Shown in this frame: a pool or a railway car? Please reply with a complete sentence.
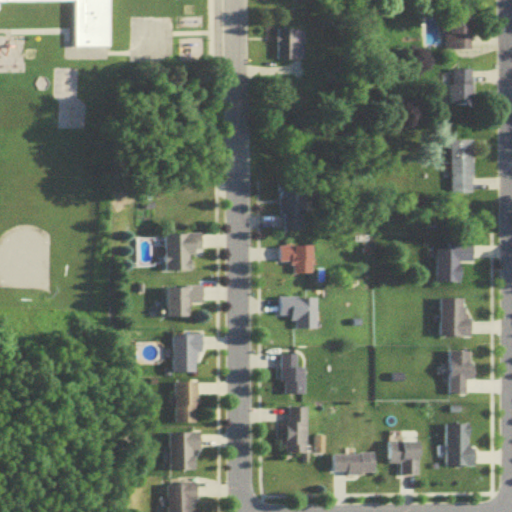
This aerial view contains a pool.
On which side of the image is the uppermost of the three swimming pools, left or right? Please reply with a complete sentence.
The uppermost of the three swimming pools is on the right side of the image.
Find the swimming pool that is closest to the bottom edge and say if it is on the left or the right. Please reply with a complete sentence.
The swimming pool that is closest to the bottom edge sits on the left side.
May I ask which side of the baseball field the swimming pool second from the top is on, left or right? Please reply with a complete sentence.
Relative to the baseball field, the swimming pool second from the top lies to the right.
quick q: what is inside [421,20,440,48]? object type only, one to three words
swimming pool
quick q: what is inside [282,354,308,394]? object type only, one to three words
house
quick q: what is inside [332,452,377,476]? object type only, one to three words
house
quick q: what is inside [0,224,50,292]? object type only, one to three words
baseball field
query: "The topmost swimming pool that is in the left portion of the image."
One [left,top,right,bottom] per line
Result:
[136,237,158,267]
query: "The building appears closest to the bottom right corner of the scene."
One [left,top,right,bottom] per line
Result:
[447,423,478,467]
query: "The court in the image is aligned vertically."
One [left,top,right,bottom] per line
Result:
[54,68,86,132]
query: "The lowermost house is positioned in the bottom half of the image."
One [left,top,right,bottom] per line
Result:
[168,482,197,512]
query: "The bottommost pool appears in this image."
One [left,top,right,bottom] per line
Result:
[136,342,163,364]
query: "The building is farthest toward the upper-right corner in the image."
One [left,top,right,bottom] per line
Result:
[446,22,472,49]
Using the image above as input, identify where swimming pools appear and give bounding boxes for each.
[421,20,440,48]
[136,342,163,364]
[136,237,158,267]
